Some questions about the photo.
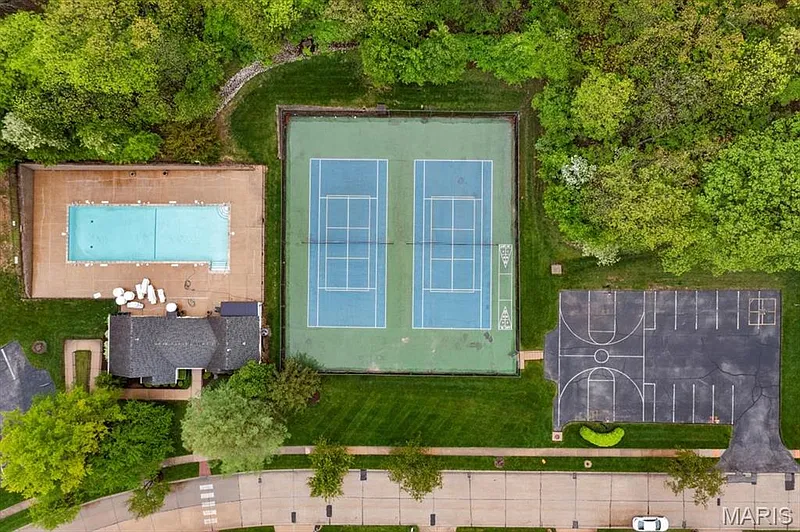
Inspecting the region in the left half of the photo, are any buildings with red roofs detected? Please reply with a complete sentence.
No, the scene shows no building with a red roof in the left half of the photo.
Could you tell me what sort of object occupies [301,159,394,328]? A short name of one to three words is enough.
tennis court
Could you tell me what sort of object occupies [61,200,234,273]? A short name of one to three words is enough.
swimming pool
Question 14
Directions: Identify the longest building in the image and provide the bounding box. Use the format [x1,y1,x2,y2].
[108,302,262,386]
